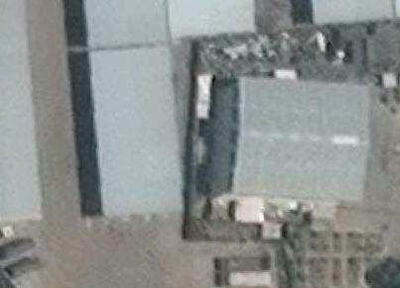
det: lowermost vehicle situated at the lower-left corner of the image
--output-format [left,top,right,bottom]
[6,257,43,279]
